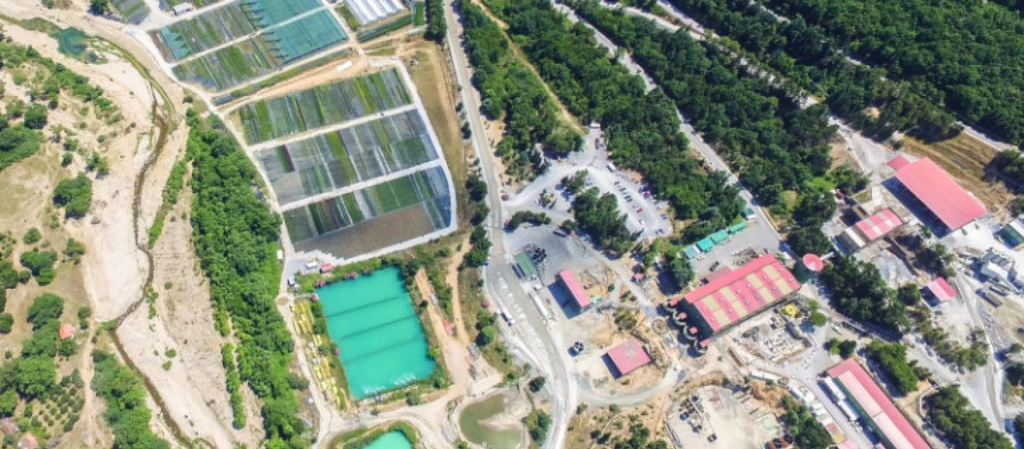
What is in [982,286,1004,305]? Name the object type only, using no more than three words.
vehicle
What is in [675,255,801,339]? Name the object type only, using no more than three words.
building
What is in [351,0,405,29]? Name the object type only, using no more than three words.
greenhouse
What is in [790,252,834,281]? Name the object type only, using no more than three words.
storage tank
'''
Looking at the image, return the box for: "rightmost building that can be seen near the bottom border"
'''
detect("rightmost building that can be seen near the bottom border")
[828,357,940,449]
